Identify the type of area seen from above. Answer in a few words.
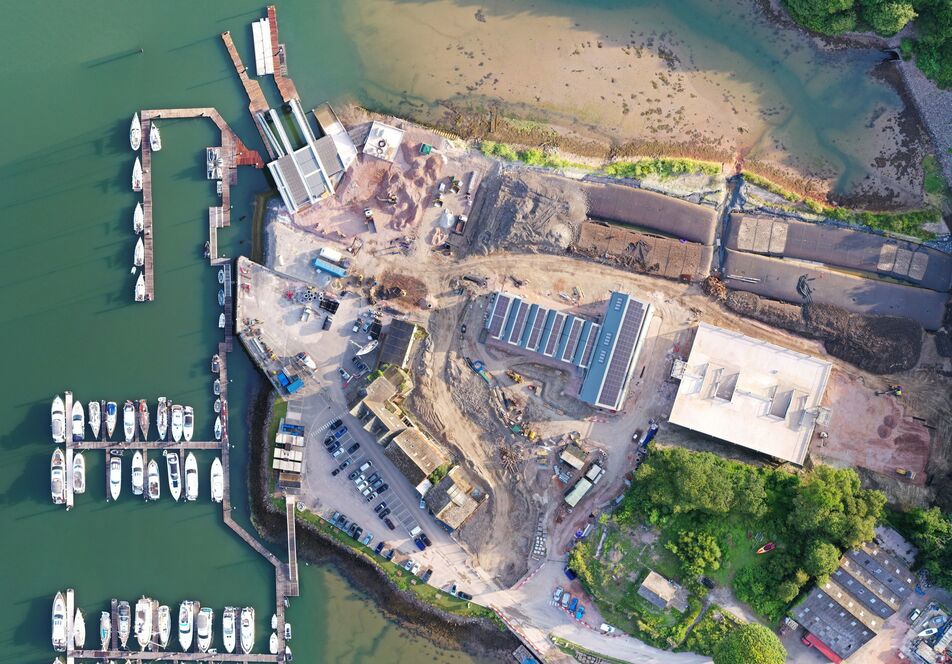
port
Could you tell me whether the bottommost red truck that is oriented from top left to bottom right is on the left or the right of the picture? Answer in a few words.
right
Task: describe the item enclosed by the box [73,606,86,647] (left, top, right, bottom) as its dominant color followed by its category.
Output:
white boat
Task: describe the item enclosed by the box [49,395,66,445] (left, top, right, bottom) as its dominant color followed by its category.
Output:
white boat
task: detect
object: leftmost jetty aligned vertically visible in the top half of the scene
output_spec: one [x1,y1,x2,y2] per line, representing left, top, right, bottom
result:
[141,118,154,301]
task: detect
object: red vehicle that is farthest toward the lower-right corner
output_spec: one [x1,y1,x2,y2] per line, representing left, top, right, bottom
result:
[804,632,847,664]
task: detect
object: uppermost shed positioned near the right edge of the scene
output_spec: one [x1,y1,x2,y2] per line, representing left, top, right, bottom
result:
[723,214,952,291]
